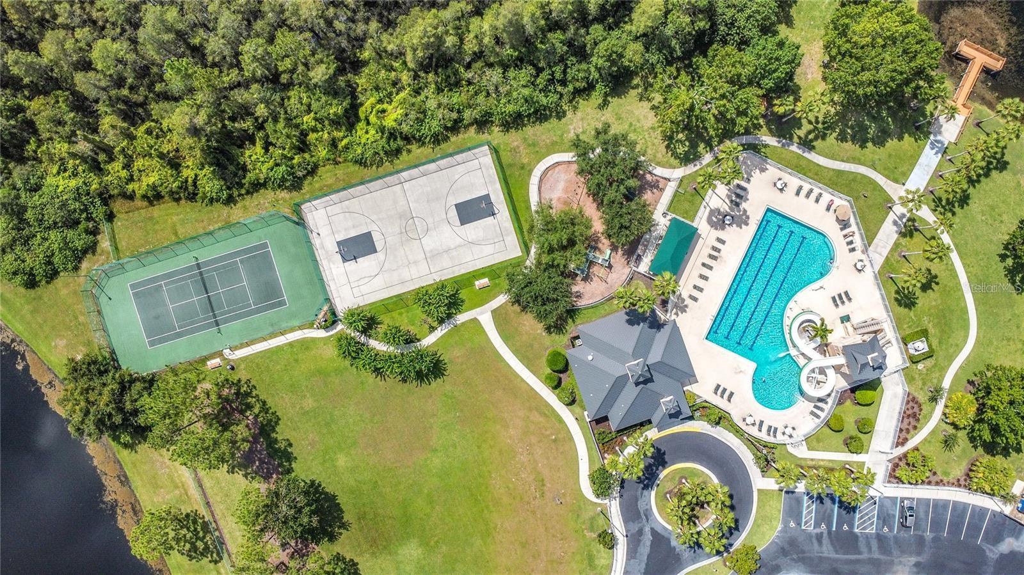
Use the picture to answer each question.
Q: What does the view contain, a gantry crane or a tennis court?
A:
tennis court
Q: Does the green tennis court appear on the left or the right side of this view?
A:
left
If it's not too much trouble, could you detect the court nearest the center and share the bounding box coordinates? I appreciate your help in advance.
[299,146,523,313]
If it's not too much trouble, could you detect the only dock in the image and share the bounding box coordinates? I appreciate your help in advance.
[941,37,1011,142]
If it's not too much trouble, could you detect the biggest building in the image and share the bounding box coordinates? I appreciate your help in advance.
[567,306,696,432]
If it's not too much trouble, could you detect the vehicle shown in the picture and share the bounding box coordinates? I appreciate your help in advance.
[899,499,917,530]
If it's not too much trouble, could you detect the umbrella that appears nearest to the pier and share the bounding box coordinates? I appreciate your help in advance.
[835,203,852,220]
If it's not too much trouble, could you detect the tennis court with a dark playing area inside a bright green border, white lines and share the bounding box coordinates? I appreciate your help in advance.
[93,209,329,373]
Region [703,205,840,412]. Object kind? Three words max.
swimming pool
